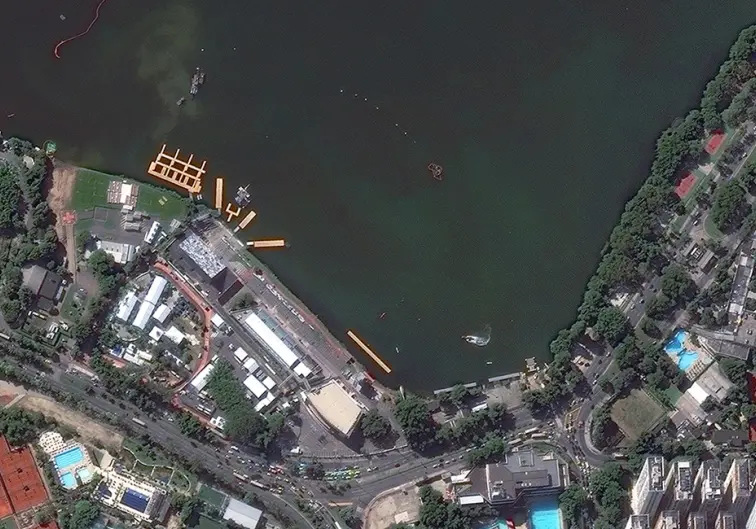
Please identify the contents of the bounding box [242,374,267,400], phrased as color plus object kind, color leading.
white tent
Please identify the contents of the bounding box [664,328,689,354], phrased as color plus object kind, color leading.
blue swimming pool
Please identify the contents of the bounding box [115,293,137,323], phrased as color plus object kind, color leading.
white tent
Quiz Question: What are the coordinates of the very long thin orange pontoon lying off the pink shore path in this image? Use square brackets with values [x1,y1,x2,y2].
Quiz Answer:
[347,331,391,374]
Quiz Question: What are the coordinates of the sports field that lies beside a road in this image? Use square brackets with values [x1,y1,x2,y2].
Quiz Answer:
[612,387,667,440]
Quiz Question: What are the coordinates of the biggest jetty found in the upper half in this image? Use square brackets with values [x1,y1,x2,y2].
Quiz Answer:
[147,145,207,193]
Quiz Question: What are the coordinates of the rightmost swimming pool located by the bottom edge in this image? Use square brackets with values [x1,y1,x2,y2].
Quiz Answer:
[530,492,563,529]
